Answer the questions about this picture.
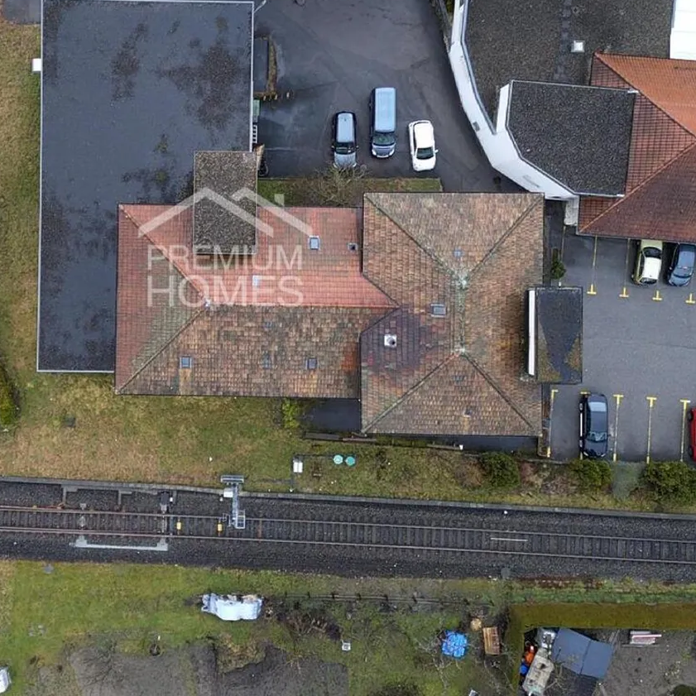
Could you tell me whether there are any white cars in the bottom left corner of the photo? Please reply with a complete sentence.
No, no white car is visible in the bottom left corner of the photo.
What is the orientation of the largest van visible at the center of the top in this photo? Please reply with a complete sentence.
In this picture, the largest van visible at the center of the top is oriented vertically.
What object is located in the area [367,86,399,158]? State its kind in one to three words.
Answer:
van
